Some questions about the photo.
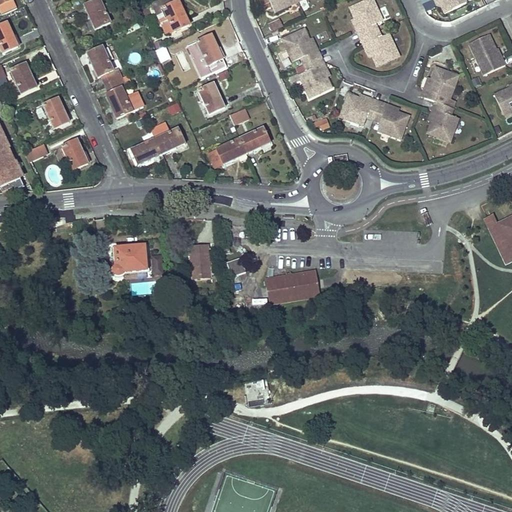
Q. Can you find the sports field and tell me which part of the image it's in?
bottom right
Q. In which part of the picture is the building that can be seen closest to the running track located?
bottom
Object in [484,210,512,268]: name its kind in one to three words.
building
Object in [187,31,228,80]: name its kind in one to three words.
house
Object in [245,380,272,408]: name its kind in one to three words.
building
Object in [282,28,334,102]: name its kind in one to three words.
house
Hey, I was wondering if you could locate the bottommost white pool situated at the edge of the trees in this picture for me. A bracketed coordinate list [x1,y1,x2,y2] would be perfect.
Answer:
[45,164,62,188]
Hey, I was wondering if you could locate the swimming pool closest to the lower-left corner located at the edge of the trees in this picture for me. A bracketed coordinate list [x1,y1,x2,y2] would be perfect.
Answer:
[130,280,156,296]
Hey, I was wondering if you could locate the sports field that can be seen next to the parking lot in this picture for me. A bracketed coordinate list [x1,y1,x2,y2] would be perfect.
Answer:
[236,395,512,512]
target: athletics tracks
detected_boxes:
[157,416,505,512]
